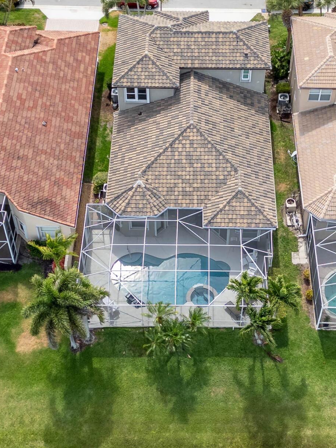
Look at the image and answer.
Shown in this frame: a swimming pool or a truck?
swimming pool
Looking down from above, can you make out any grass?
Yes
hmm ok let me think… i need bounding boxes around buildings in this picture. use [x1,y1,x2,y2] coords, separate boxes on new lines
[287,9,336,245]
[103,8,280,251]
[0,26,102,248]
